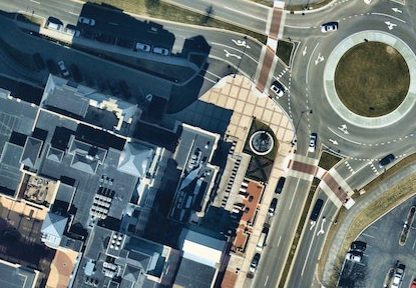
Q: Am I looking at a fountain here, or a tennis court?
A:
fountain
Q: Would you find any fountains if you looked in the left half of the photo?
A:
No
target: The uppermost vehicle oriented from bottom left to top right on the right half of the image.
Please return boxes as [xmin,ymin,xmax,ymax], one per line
[378,154,395,168]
